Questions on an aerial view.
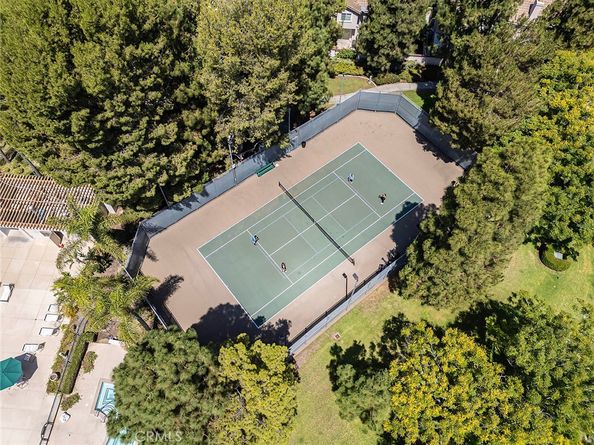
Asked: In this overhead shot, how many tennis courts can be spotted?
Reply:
1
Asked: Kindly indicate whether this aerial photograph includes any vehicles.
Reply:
No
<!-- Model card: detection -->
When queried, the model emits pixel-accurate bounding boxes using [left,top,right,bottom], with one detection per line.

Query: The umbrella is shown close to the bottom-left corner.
[0,356,25,390]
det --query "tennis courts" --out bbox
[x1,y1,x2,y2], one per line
[138,110,463,368]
